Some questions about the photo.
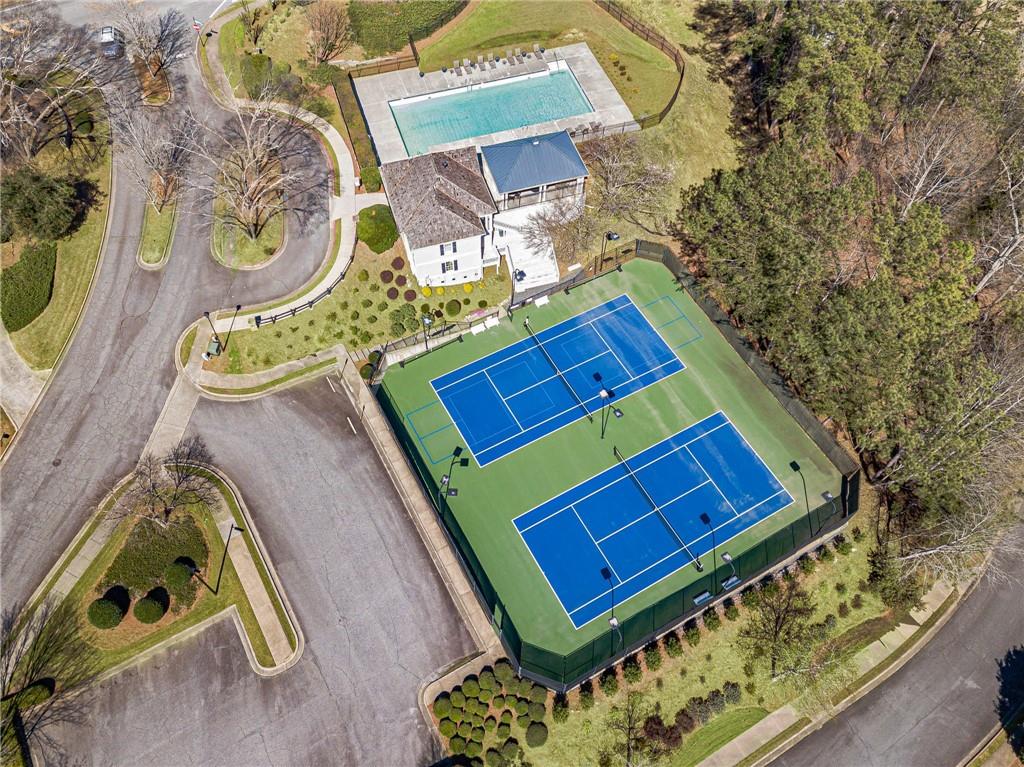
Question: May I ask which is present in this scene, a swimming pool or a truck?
swimming pool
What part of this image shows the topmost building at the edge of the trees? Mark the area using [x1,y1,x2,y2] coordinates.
[480,131,589,210]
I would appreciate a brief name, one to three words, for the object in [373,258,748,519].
tennis court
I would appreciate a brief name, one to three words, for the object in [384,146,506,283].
house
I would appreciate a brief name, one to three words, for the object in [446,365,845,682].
tennis court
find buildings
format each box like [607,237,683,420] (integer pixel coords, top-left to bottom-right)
[384,146,506,283]
[480,131,589,210]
